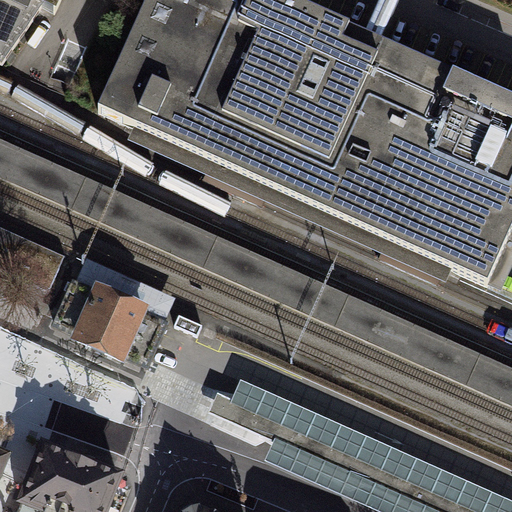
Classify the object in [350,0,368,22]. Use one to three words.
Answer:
car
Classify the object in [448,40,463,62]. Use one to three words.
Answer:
car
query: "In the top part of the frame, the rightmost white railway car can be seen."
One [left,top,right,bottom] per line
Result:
[158,170,232,216]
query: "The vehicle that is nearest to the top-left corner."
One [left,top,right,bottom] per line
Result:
[28,22,52,50]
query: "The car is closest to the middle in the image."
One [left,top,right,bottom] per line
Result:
[154,354,178,370]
